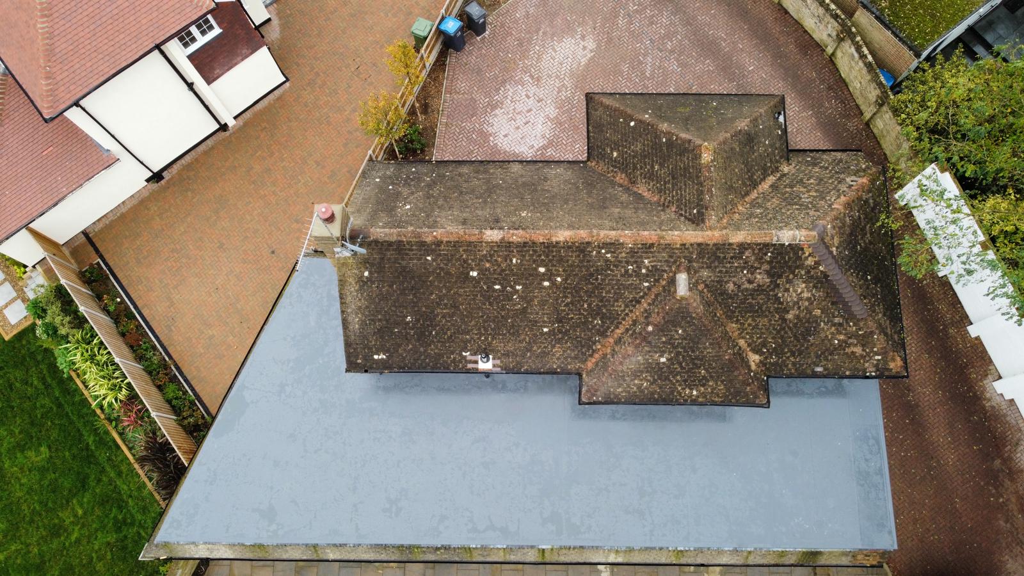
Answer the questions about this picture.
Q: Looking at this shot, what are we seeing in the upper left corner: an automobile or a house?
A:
house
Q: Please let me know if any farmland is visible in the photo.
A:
No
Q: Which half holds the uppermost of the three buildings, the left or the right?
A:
right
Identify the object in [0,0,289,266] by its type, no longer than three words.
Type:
house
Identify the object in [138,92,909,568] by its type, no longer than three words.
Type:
house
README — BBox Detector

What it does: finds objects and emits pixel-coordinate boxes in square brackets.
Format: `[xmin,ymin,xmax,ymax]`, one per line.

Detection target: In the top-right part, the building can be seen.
[830,0,1014,85]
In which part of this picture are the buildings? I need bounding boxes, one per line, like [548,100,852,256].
[0,0,289,266]
[138,92,909,568]
[830,0,1014,85]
